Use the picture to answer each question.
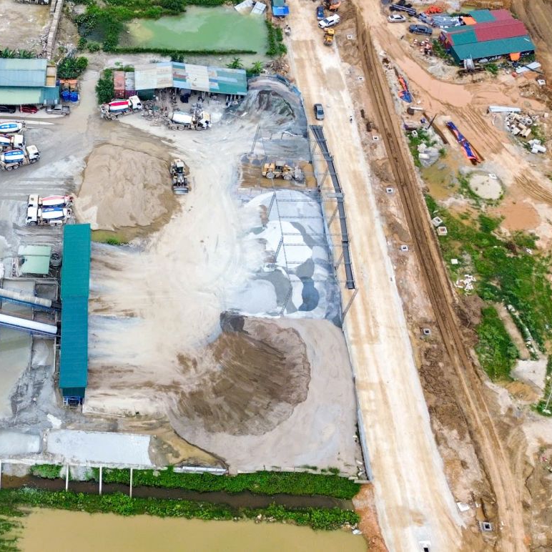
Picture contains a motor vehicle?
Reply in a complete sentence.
Yes, the frame does contain a motor vehicle.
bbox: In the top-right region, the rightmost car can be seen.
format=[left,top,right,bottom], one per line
[410,21,434,36]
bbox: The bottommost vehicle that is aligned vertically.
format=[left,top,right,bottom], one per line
[172,158,189,196]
